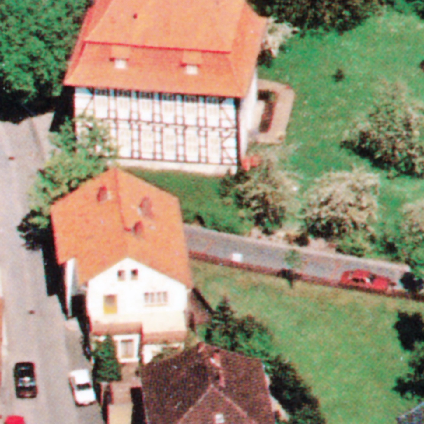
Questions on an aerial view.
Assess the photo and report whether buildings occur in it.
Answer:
Yes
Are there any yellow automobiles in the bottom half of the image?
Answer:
No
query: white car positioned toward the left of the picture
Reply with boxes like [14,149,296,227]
[68,367,96,403]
